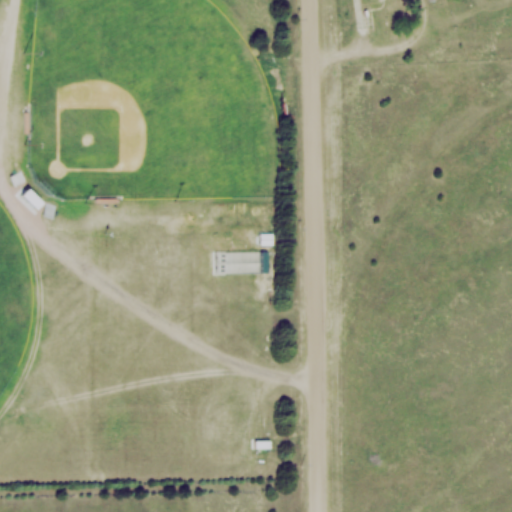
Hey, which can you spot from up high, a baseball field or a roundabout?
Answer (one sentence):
Visible in the photo is a baseball field.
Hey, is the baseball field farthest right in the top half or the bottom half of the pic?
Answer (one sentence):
You can find the baseball field farthest right in the top half.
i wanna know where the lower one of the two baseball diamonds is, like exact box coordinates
[0,193,36,404]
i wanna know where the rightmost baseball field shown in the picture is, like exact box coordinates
[27,0,283,201]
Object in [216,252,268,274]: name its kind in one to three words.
shed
